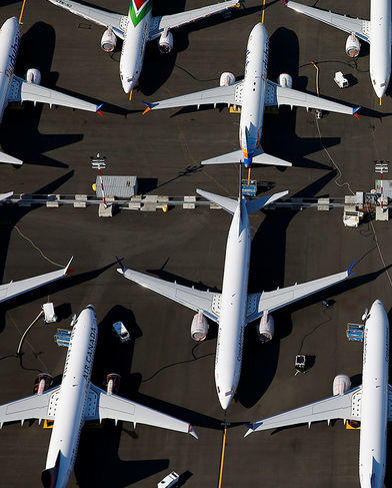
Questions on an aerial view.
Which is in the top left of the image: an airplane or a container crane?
airplane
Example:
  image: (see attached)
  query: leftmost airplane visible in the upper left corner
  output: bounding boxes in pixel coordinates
[0,22,101,130]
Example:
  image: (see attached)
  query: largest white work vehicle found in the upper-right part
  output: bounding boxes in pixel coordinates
[332,73,350,91]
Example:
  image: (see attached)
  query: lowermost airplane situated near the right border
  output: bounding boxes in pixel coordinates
[243,300,392,488]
